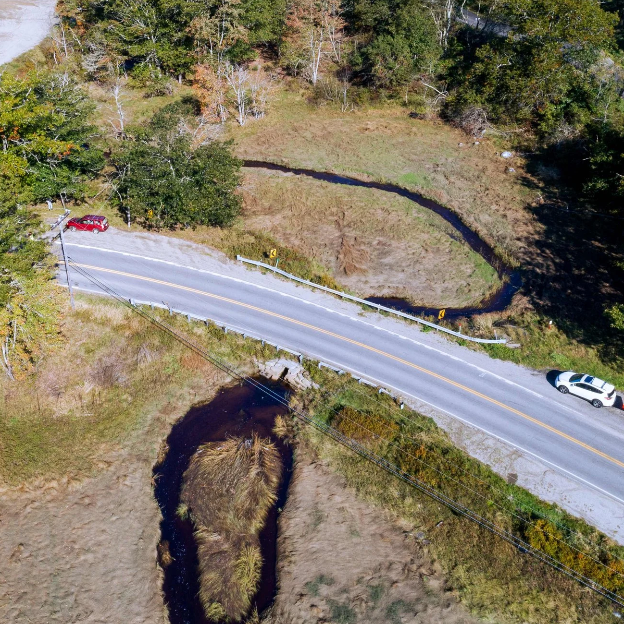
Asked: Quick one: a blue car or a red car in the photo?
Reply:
red car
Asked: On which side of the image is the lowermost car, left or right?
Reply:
right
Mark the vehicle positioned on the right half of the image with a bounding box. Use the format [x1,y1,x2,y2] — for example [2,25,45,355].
[555,371,620,409]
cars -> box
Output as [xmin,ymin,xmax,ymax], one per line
[555,371,620,409]
[65,213,110,235]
